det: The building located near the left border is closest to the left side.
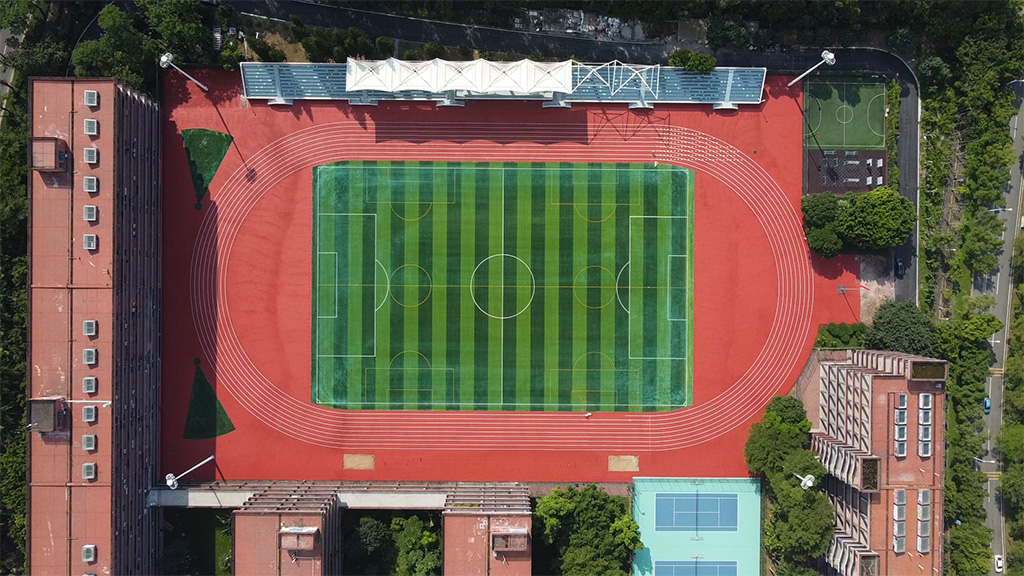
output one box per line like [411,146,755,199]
[26,77,166,576]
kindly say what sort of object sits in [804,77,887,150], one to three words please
sports court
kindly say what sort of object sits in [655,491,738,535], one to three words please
tennis court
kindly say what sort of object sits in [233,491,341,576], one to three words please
building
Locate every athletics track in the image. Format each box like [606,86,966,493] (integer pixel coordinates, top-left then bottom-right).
[190,122,815,451]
